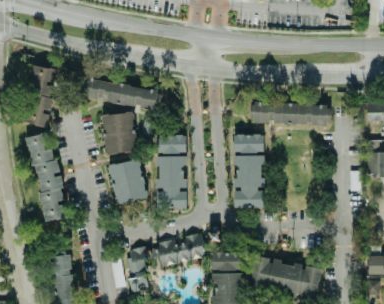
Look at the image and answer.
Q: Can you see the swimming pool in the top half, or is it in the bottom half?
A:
bottom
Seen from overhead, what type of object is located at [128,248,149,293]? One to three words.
building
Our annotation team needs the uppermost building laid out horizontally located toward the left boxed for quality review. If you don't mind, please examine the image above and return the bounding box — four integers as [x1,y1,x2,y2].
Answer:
[88,78,162,110]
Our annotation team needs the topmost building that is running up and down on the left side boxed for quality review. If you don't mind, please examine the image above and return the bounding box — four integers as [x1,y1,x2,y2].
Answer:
[26,66,57,128]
